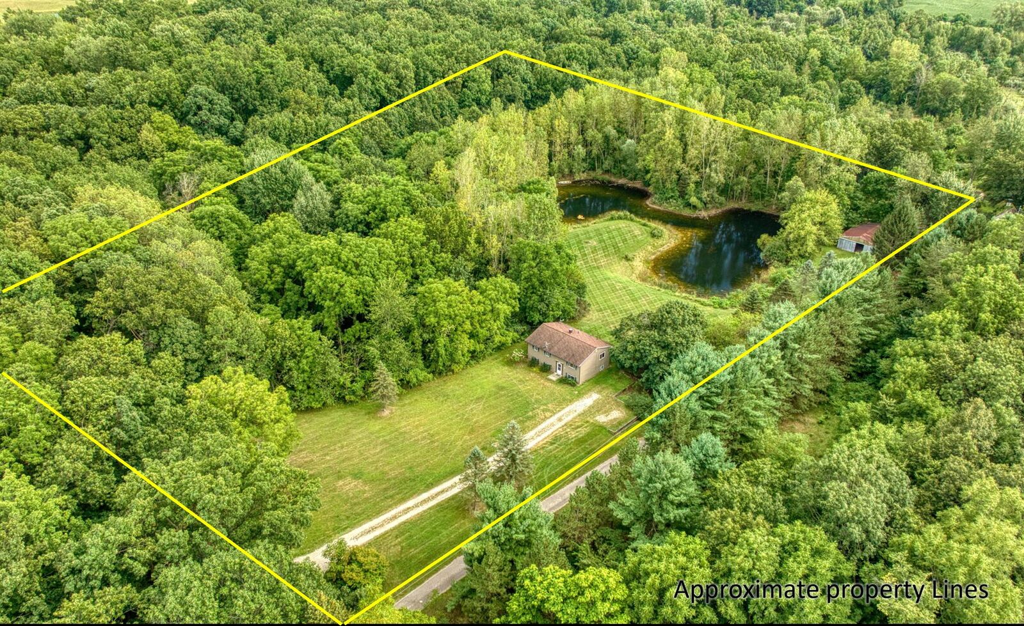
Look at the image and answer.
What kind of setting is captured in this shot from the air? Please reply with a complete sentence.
It's a forest.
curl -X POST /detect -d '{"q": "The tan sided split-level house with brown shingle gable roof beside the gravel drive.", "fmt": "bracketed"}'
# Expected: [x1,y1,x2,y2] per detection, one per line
[527,321,608,384]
